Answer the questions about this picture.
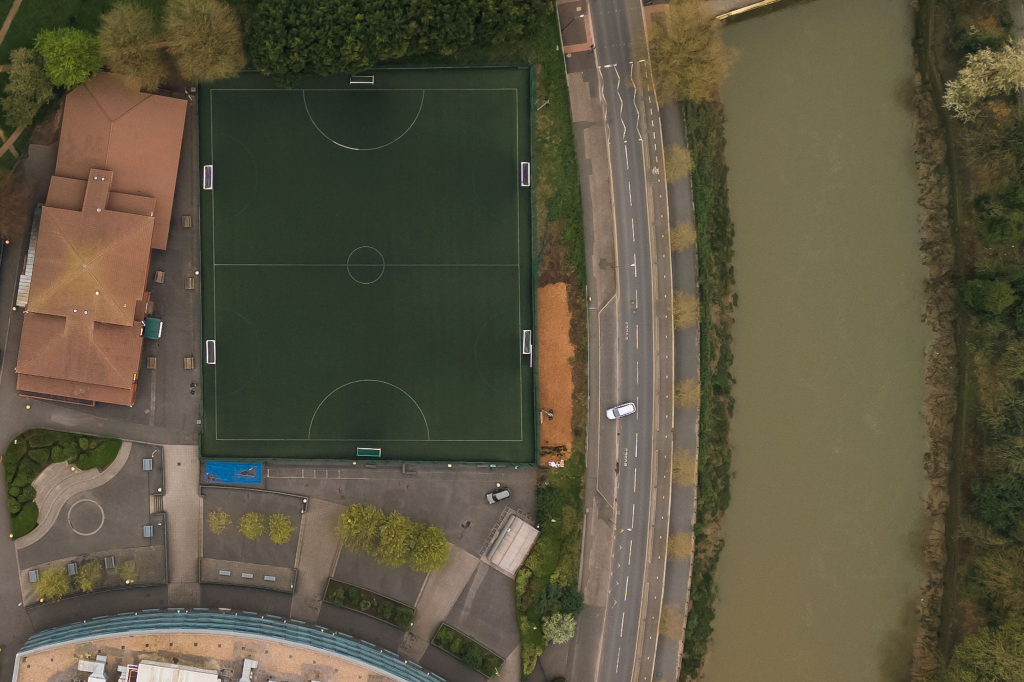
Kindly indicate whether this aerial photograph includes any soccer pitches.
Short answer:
Yes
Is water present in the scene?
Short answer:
Yes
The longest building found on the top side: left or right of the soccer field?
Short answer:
on the left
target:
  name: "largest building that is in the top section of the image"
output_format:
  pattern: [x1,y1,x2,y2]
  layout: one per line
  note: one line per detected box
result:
[15,72,188,406]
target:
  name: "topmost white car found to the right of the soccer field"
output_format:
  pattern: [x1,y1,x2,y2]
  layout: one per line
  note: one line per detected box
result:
[606,402,637,420]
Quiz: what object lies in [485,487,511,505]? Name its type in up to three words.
car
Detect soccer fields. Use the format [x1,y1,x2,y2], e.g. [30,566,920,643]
[200,65,538,465]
